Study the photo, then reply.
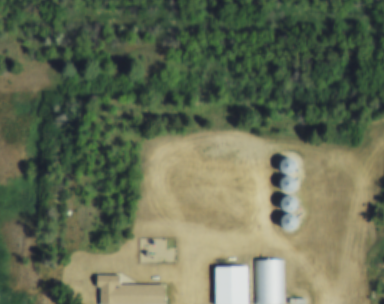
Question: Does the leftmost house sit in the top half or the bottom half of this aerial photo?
bottom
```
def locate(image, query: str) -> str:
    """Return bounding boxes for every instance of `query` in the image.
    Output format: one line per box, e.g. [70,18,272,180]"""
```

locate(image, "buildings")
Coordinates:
[256,258,286,304]
[98,275,166,304]
[216,265,250,304]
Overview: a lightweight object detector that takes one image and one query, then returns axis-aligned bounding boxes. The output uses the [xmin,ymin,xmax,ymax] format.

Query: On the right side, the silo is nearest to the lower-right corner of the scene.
[280,214,302,233]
